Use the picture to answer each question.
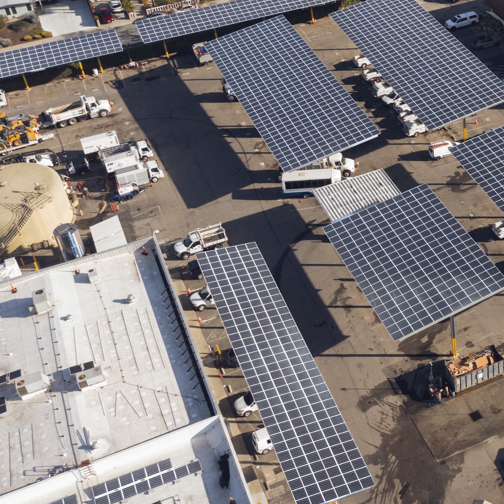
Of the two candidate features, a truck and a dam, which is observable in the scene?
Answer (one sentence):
Of the two, only a truck appears.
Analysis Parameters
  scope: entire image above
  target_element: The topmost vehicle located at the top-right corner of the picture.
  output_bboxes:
[443,7,480,30]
